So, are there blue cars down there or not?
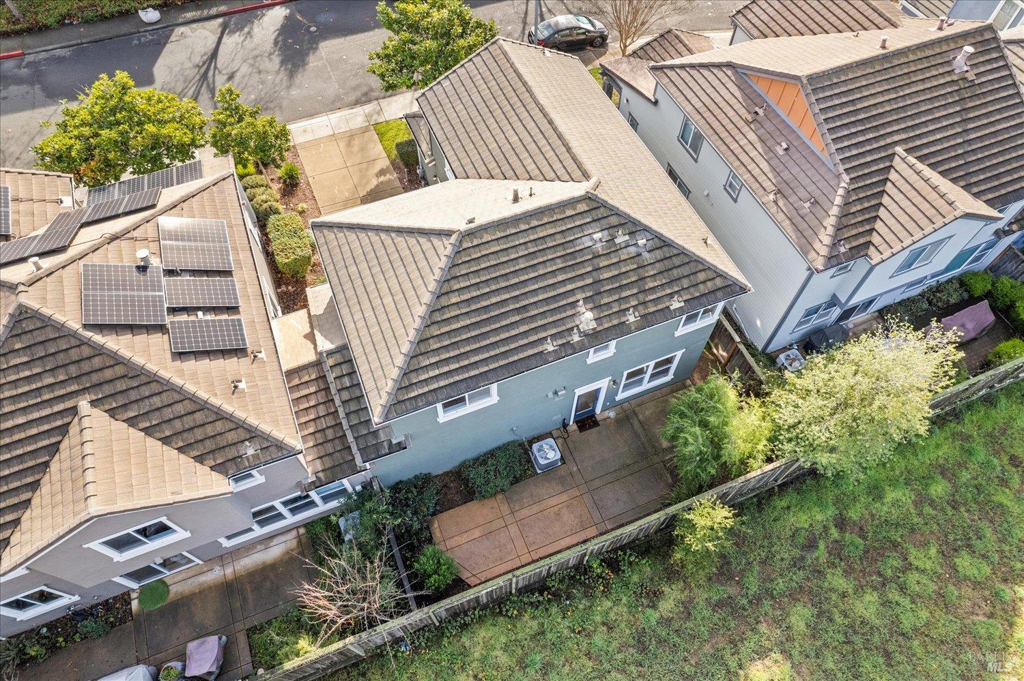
No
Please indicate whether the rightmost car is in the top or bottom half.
top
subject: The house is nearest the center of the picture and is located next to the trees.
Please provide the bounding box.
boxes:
[307,33,757,489]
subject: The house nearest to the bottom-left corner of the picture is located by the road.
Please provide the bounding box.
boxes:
[0,147,381,643]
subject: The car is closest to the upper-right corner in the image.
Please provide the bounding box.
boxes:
[529,14,609,51]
